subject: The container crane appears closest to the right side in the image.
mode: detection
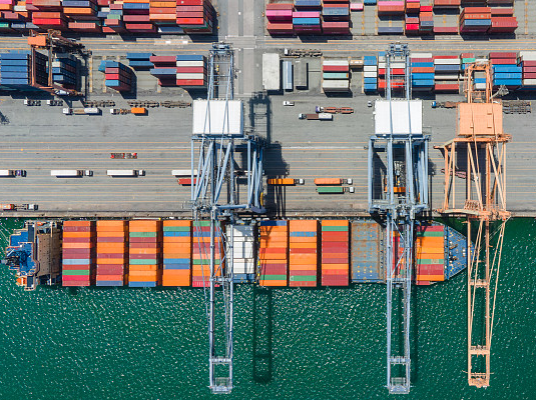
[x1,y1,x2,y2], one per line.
[429,66,516,387]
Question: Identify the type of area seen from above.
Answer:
port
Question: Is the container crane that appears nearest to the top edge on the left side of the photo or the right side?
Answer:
left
